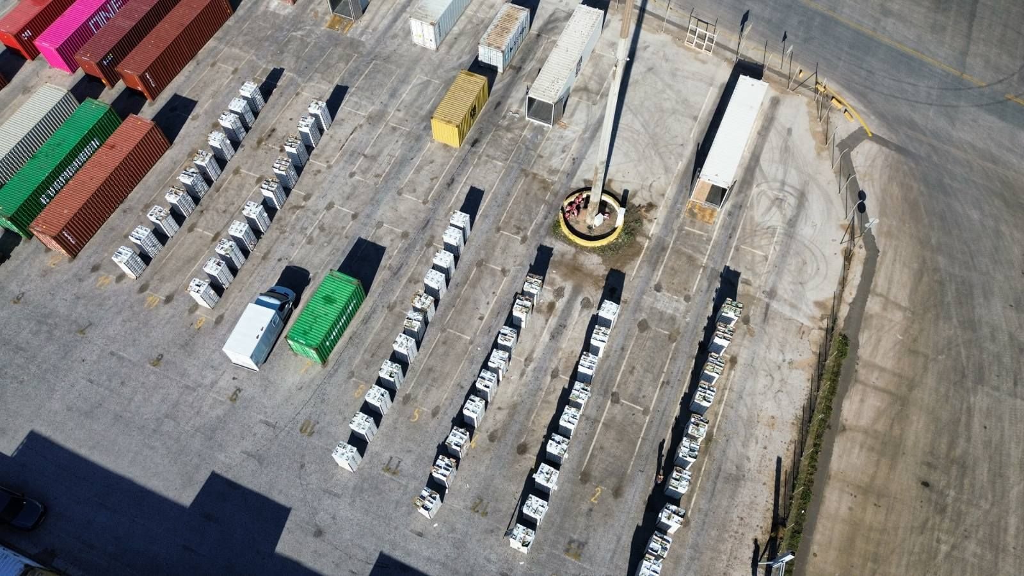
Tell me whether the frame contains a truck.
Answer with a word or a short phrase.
Yes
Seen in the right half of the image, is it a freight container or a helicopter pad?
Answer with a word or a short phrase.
freight container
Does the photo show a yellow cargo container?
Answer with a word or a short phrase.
Yes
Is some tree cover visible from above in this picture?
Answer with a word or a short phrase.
No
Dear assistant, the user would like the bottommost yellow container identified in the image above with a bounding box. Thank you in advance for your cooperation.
[431,69,488,147]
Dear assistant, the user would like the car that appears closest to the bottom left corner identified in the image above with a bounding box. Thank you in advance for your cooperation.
[0,487,51,537]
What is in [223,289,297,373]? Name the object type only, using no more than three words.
truck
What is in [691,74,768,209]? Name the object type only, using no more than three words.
shipping container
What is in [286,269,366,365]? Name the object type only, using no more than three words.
shipping container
